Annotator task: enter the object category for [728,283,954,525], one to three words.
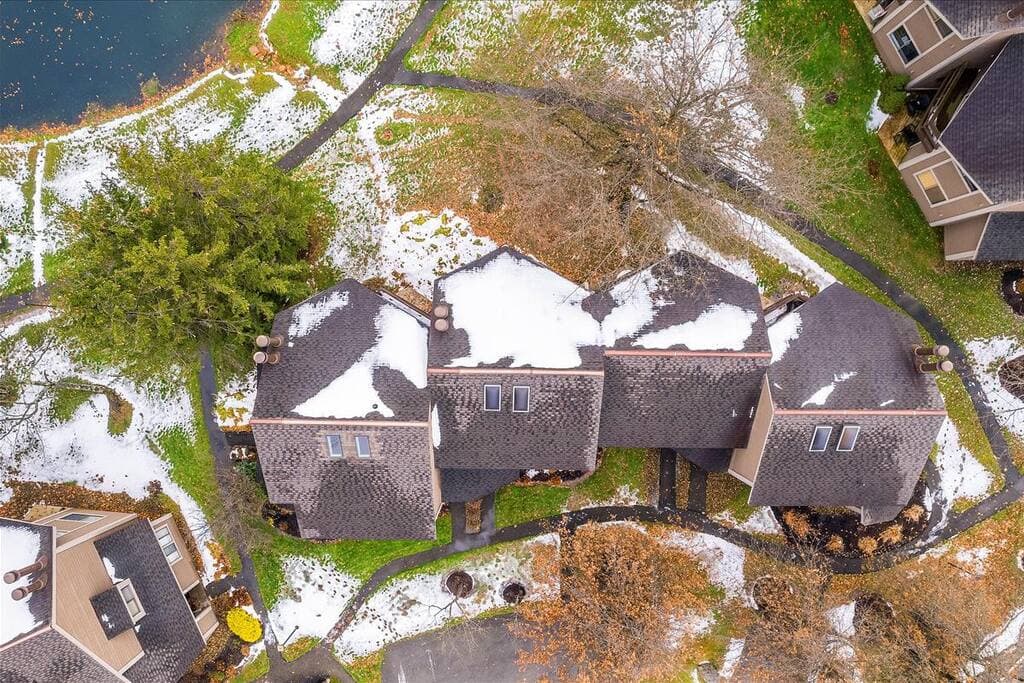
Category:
house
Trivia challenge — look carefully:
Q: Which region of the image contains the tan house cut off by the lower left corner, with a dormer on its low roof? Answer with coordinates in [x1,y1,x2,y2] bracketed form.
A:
[0,507,222,683]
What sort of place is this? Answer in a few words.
residential area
